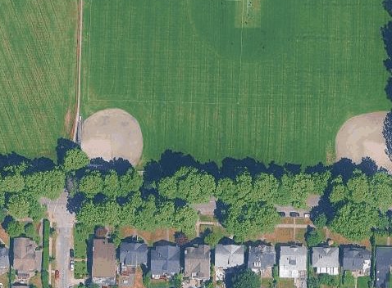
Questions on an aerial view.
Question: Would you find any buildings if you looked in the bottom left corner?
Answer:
Yes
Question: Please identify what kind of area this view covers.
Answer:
sports ground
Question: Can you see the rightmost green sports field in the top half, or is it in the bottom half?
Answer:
top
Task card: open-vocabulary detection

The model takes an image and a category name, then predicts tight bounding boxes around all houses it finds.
[184,244,211,280]
[120,237,147,276]
[311,245,339,275]
[0,242,10,275]
[343,245,371,275]
[13,235,42,278]
[249,243,276,278]
[279,243,307,279]
[375,243,392,288]
[215,242,245,278]
[92,237,118,283]
[150,243,180,278]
